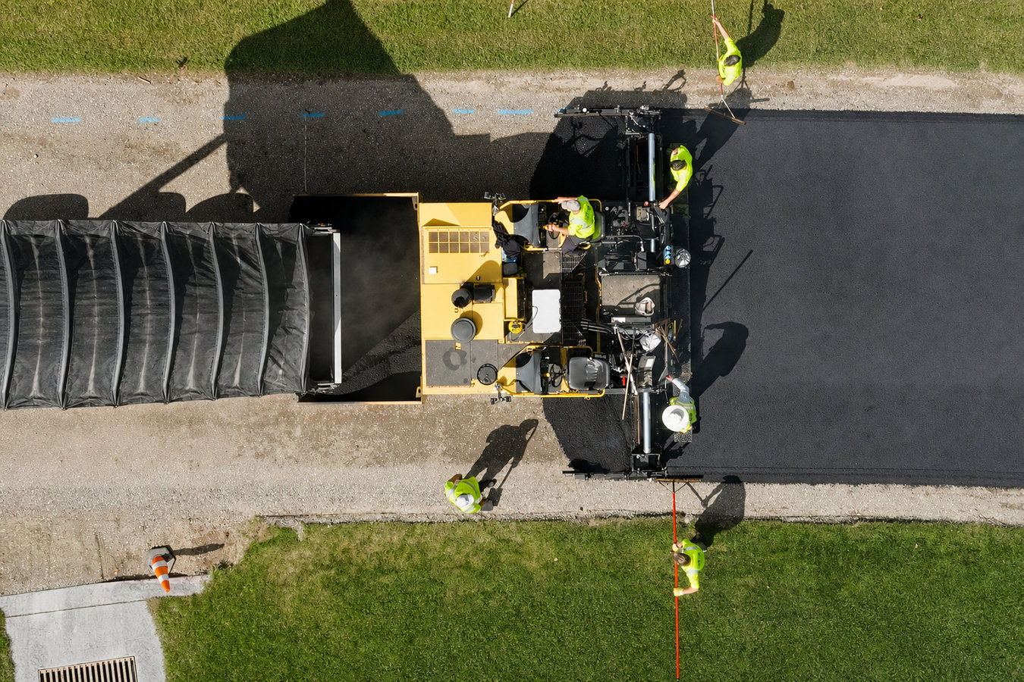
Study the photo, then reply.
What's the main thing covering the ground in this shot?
paved ground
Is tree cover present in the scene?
No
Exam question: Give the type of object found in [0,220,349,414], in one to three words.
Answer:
truck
